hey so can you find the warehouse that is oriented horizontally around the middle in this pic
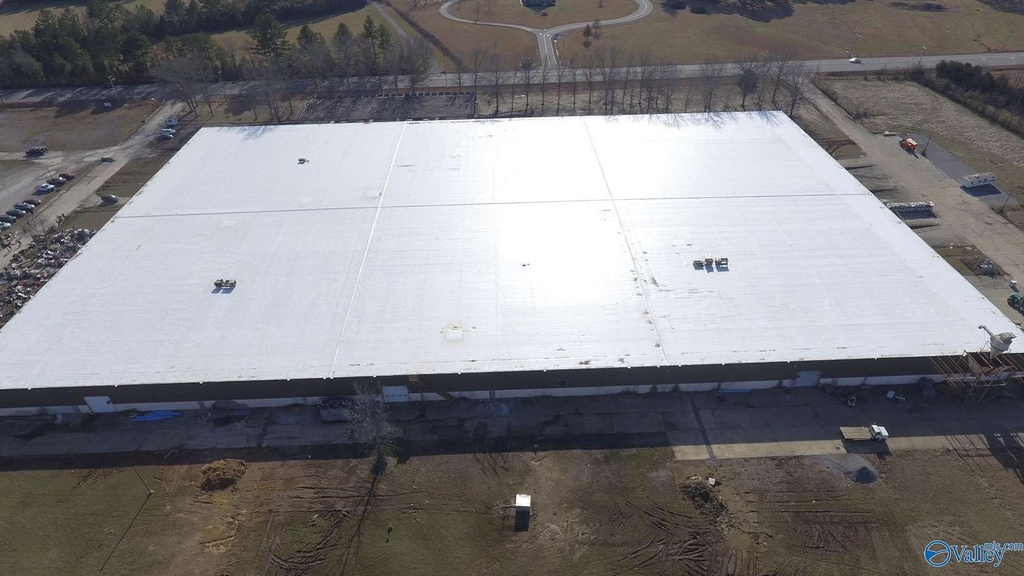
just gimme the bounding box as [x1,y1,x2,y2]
[0,110,1024,416]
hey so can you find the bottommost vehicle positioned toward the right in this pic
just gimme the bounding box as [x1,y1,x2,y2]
[838,422,894,446]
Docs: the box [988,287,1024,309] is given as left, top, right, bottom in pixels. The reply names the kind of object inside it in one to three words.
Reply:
work vehicle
